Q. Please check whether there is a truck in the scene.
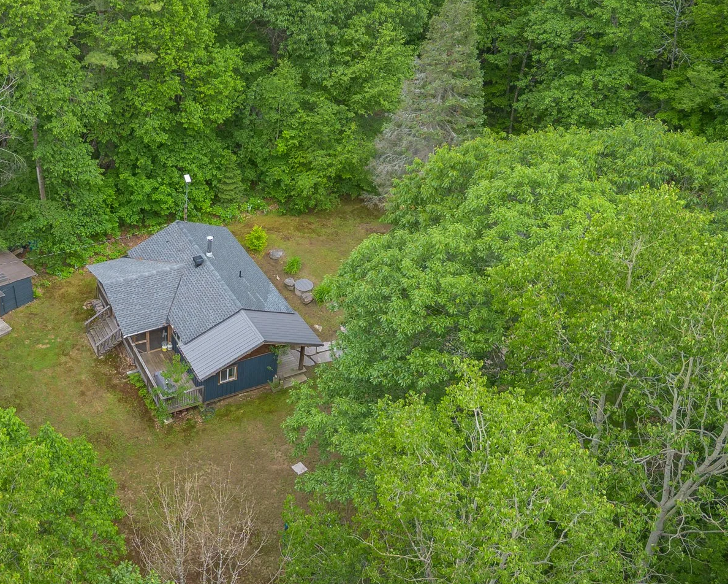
No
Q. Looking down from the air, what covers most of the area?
trees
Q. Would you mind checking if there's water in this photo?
No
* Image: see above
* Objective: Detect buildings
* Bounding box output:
[83,221,324,421]
[0,239,38,339]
